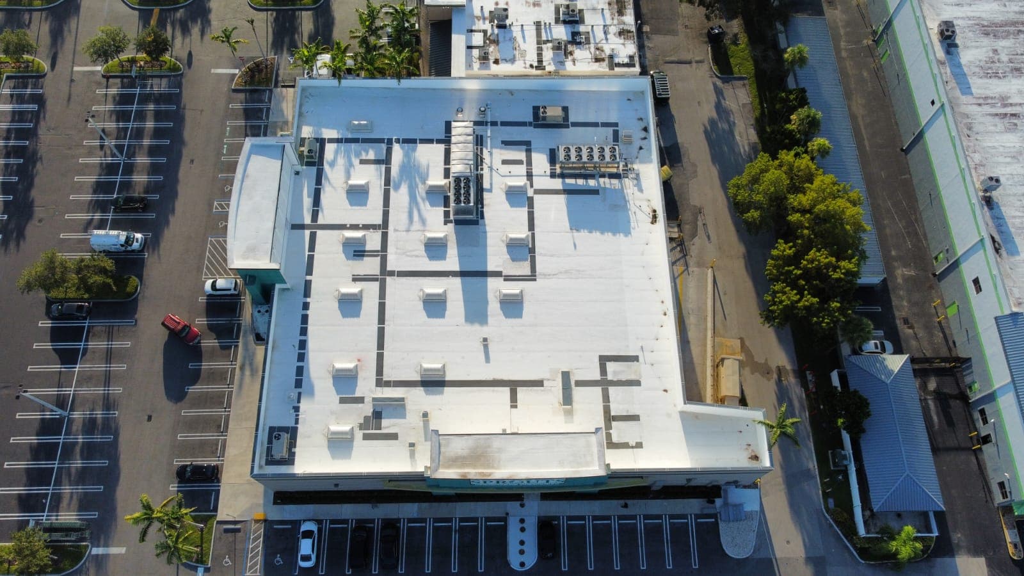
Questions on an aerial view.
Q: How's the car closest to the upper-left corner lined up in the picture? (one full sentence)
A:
From this overhead view, the car closest to the upper-left corner appears to run from left to right.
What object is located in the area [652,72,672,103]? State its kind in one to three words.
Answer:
vehicle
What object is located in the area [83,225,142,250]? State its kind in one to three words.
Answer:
vehicle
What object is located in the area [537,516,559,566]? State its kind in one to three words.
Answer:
car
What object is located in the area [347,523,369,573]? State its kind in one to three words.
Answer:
car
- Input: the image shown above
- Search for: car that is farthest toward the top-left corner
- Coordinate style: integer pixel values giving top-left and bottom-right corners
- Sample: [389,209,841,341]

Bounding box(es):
[106,191,149,211]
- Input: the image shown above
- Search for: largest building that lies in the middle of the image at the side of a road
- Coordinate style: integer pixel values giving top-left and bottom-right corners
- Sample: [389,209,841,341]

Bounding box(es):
[227,78,772,496]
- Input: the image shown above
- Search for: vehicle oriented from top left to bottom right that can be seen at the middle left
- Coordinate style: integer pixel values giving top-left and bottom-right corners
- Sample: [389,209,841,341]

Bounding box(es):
[156,308,203,348]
